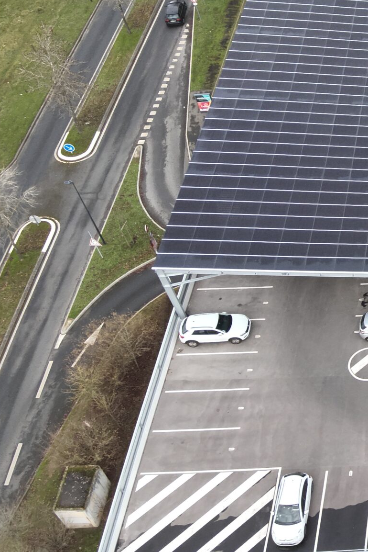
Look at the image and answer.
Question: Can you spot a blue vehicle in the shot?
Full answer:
No, the frame has no blue vehicle in it.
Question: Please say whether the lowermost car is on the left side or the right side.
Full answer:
You can find the lowermost car on the right side of the picture.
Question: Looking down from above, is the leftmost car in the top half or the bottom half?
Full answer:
The leftmost car is in the top half of the image.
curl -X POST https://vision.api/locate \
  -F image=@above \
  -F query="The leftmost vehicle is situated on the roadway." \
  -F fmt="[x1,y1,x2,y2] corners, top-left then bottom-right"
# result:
[161,0,188,29]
